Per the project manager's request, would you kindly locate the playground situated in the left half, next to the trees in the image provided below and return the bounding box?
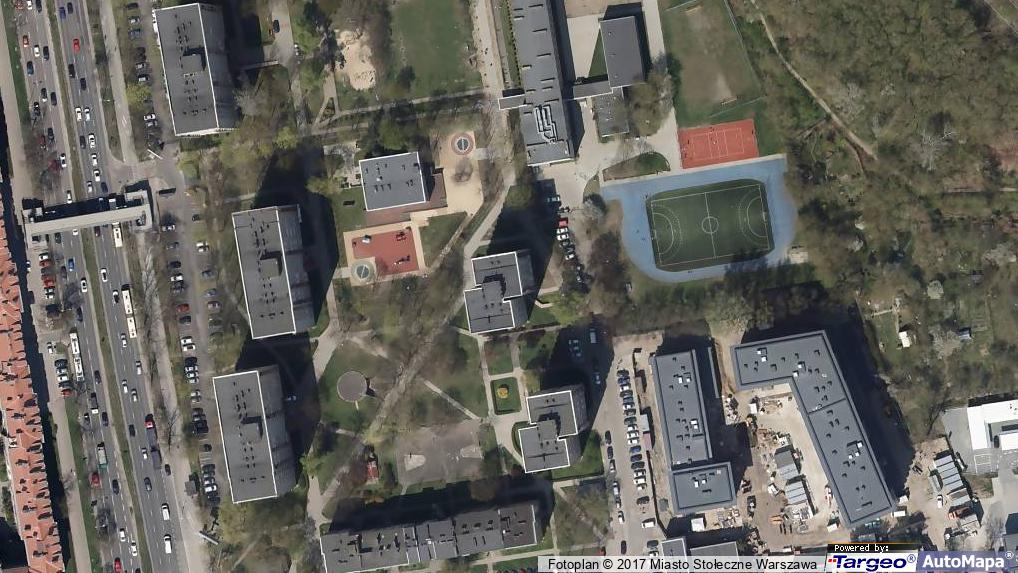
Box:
[352,228,419,276]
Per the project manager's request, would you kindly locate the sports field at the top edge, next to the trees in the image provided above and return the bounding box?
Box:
[681,3,753,109]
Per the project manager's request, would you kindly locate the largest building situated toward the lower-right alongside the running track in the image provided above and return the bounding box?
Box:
[732,327,897,525]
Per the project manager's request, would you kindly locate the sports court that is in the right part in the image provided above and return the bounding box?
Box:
[678,119,759,168]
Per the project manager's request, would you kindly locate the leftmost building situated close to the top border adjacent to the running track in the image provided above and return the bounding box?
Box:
[509,0,577,165]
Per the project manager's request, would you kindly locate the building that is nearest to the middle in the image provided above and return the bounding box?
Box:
[464,249,536,333]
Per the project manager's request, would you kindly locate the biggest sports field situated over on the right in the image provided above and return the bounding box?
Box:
[646,178,775,272]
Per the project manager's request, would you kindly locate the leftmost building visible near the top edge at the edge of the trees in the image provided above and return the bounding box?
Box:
[155,3,240,135]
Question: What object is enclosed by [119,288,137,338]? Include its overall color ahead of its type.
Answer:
white vehicle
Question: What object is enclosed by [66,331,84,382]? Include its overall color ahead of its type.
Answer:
white vehicle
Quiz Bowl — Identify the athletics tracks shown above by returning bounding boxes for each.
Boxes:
[601,157,797,282]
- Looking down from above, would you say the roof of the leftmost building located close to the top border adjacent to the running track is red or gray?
gray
